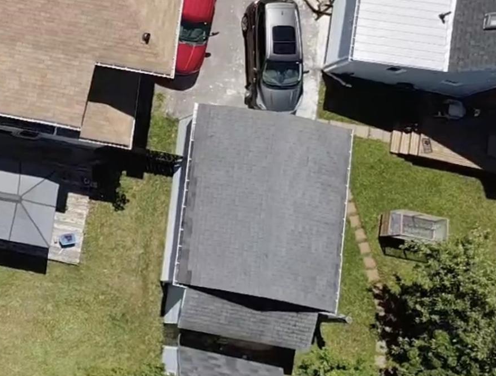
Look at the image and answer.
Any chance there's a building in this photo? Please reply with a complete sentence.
Yes, the frame does contain a building.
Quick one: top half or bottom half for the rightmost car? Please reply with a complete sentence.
Seen from above, the rightmost car lies in the top half of the view.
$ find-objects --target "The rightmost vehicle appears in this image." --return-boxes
[245,0,308,113]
